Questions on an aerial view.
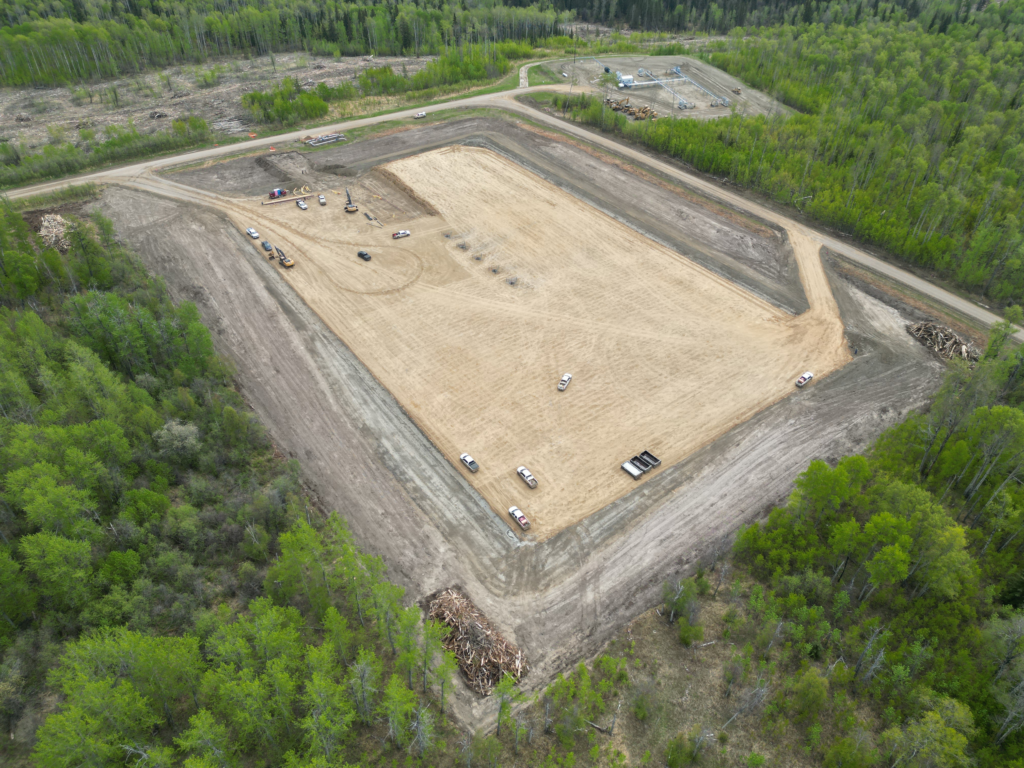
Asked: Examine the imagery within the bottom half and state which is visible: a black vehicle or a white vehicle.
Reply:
white vehicle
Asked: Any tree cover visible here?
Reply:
Yes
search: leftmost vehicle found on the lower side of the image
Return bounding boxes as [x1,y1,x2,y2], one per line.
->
[460,454,480,474]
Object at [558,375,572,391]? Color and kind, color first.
white vehicle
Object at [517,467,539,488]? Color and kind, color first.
white truck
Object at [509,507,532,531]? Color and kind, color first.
white truck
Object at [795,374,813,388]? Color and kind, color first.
white vehicle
